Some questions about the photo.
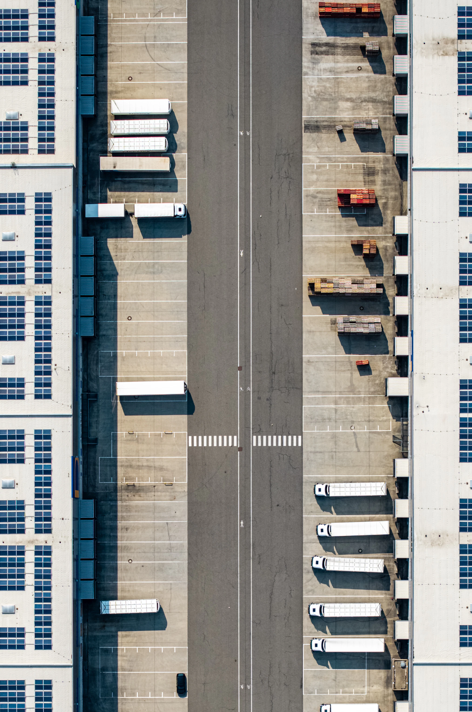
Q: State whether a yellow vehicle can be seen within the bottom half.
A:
No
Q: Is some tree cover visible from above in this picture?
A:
No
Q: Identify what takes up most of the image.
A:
paved ground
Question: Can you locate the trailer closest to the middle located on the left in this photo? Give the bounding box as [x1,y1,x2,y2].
[116,380,188,396]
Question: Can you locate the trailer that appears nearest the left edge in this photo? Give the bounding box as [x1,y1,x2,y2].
[85,204,127,219]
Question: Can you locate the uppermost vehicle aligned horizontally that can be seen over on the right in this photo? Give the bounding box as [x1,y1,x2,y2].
[313,483,386,498]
